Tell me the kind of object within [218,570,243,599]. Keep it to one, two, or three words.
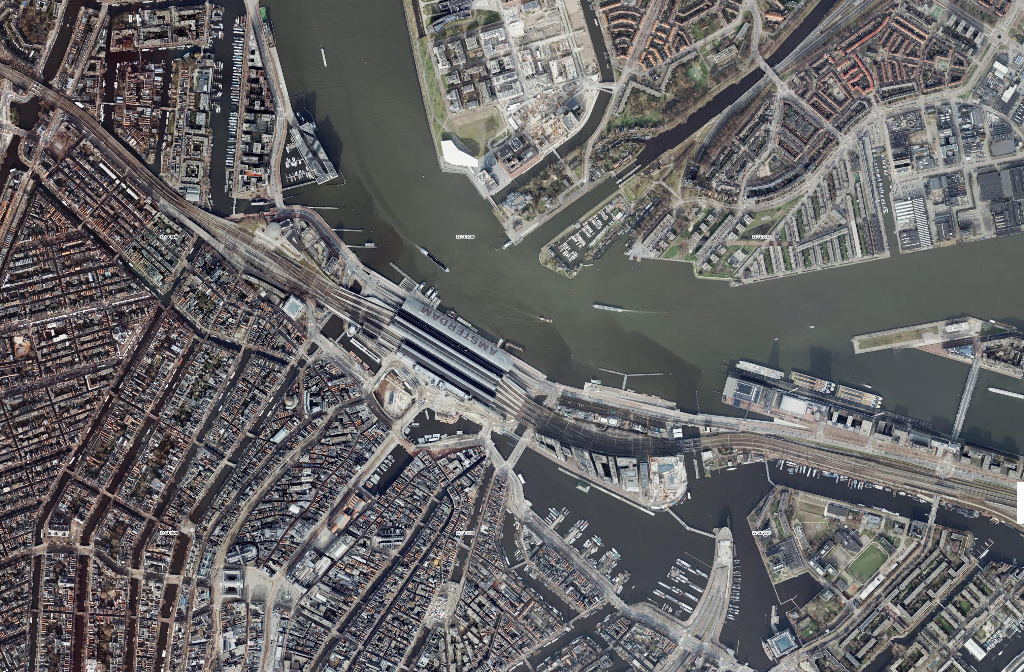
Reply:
building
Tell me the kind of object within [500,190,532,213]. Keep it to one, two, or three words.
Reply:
house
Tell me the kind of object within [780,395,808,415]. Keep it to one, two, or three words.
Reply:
building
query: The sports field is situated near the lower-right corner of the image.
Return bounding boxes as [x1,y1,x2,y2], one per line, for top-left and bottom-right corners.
[848,543,888,582]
